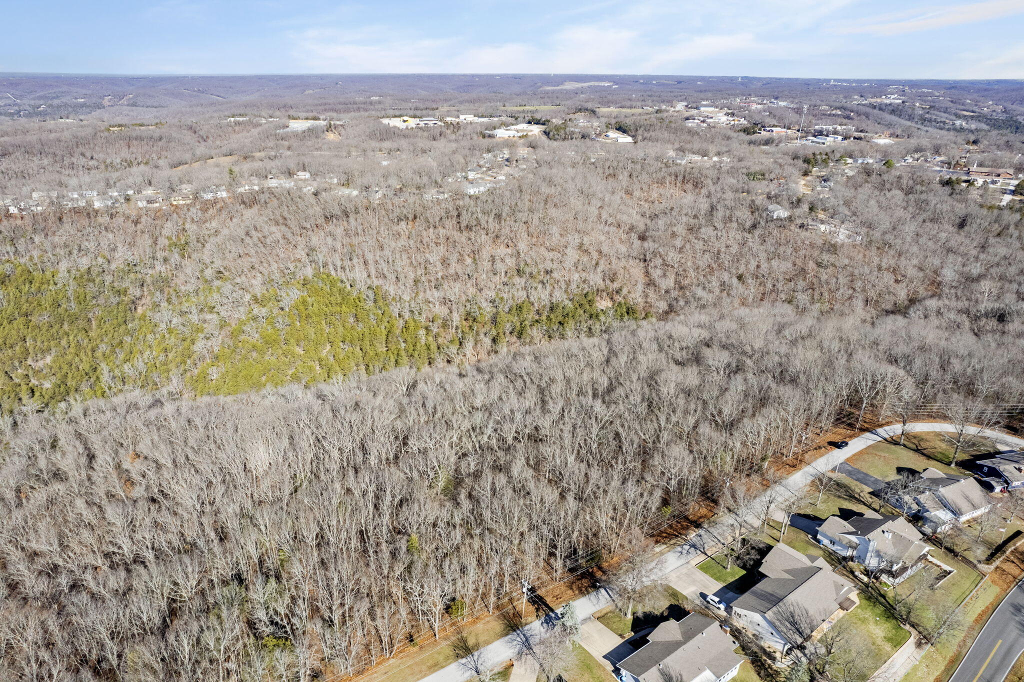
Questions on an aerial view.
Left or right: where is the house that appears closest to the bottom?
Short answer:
right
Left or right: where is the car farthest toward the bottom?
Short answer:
right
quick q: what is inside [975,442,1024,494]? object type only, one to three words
house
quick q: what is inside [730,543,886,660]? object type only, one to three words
house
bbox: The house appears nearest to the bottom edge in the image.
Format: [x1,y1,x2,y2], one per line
[613,612,751,682]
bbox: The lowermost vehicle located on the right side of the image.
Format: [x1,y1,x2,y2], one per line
[702,591,730,613]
